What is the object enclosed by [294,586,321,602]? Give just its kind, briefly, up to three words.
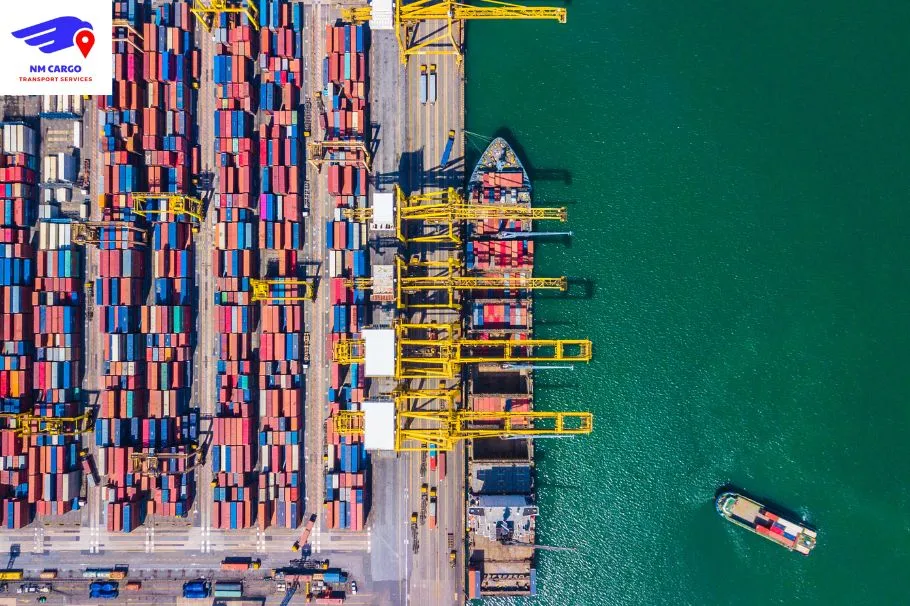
work vehicle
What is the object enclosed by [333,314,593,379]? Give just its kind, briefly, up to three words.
container crane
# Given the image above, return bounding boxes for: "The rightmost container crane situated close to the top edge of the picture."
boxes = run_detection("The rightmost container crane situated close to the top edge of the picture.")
[345,0,567,79]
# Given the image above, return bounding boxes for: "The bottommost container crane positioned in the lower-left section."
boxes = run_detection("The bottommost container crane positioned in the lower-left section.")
[132,443,204,475]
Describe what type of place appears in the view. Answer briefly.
port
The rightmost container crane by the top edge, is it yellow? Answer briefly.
Yes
